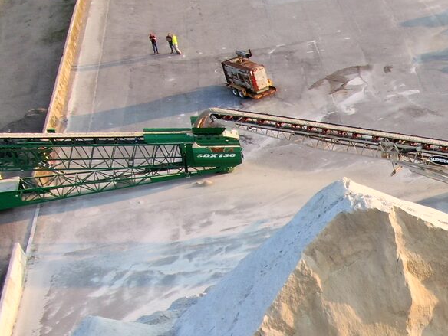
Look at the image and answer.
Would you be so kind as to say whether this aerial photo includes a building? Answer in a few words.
No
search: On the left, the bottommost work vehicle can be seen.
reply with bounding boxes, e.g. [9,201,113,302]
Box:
[0,116,249,222]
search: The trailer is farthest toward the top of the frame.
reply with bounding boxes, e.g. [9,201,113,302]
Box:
[216,41,273,93]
